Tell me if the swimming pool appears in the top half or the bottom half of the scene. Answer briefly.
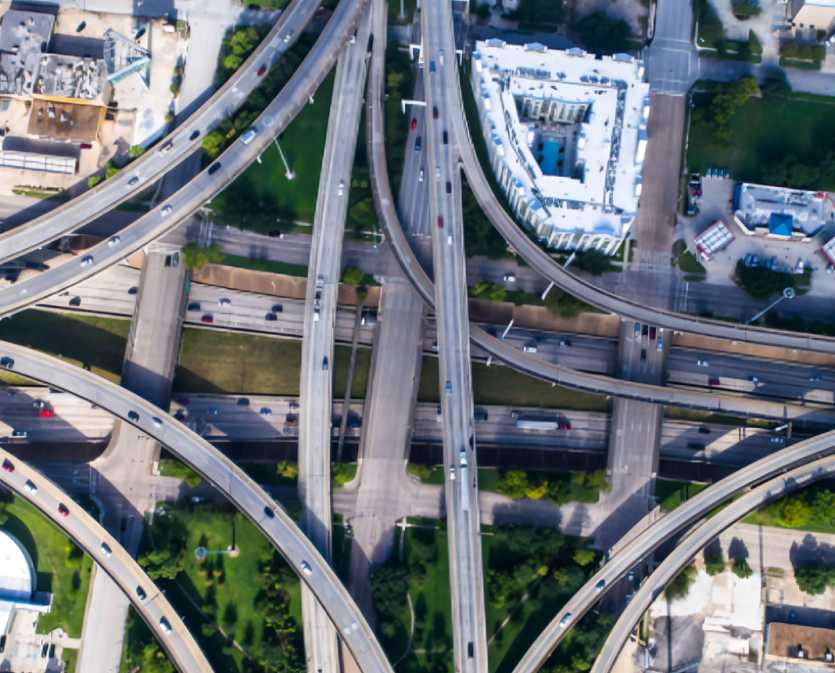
top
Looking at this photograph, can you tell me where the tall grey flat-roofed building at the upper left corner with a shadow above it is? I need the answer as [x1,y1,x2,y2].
[0,7,68,58]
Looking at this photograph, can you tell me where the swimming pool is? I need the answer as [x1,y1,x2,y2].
[539,137,560,176]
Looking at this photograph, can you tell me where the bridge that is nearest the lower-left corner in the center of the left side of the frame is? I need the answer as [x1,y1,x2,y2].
[88,247,186,463]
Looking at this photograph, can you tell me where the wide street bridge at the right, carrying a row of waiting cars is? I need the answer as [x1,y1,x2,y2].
[605,316,673,479]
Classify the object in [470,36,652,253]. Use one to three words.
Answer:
building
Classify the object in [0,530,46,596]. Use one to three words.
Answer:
building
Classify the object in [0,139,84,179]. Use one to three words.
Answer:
shed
